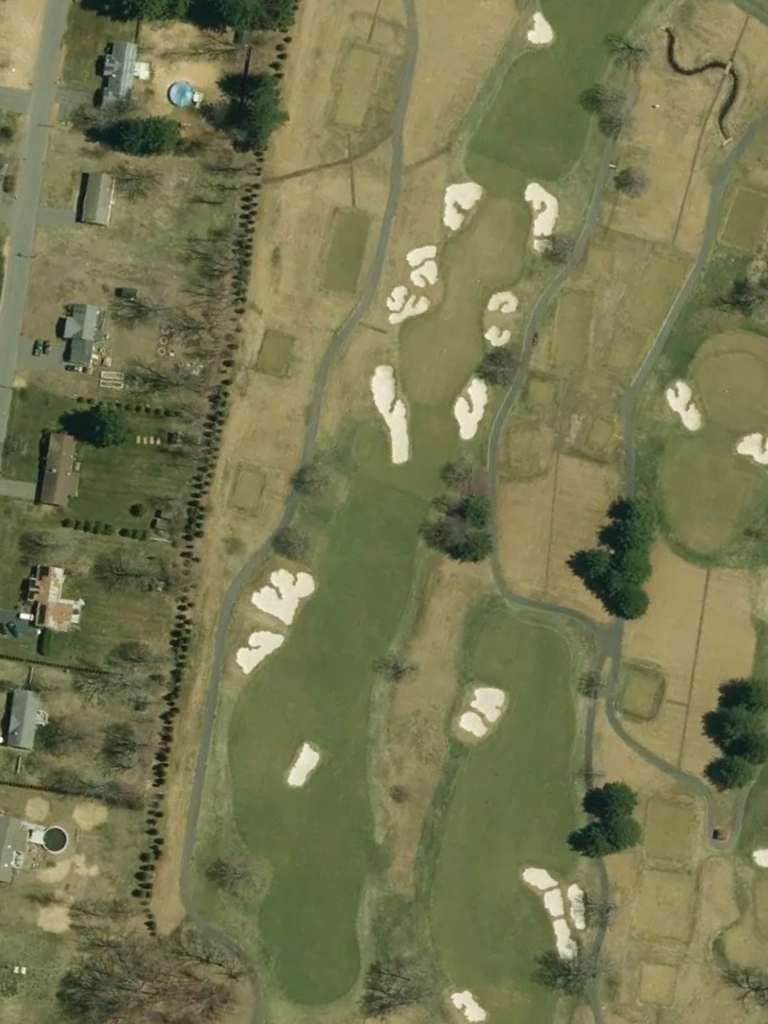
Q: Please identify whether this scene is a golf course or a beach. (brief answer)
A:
golf course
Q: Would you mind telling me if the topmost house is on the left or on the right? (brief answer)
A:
left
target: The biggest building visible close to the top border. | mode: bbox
[95,39,150,106]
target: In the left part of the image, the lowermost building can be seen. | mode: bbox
[0,814,46,884]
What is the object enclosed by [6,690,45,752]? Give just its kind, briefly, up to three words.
house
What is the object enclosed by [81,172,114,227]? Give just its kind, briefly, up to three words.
house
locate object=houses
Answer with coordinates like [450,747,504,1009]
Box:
[95,39,150,106]
[34,561,85,631]
[6,690,45,752]
[0,814,46,884]
[38,430,78,507]
[60,302,110,366]
[81,172,114,227]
